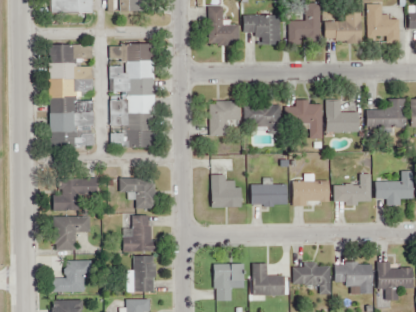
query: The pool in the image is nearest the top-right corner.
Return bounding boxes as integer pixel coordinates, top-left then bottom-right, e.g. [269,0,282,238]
[328,137,352,152]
